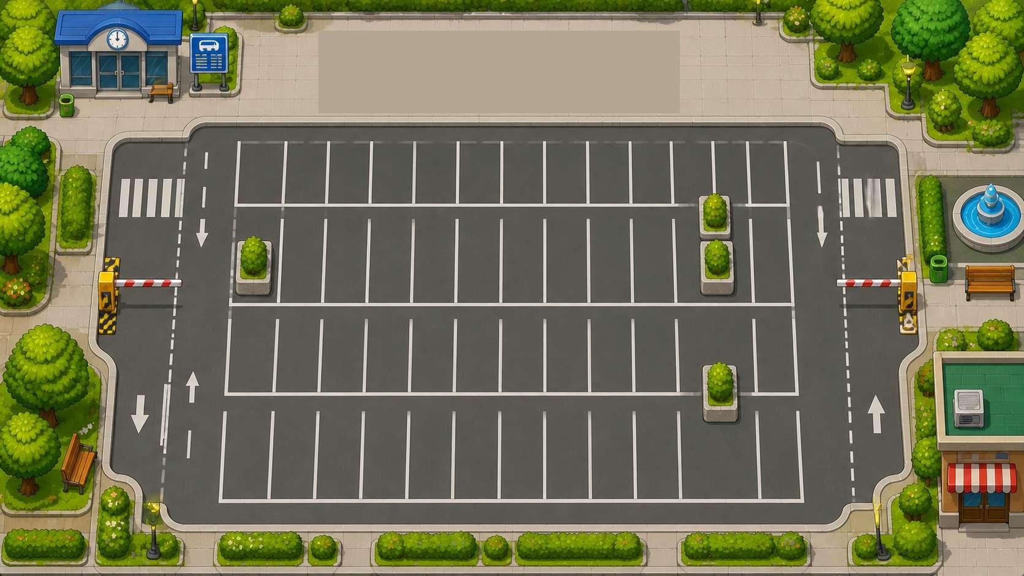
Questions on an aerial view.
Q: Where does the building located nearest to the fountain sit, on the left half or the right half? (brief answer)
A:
right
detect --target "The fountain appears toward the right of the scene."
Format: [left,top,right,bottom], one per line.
[954,182,1024,251]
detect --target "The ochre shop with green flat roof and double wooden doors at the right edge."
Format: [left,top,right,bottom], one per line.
[928,354,1024,534]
